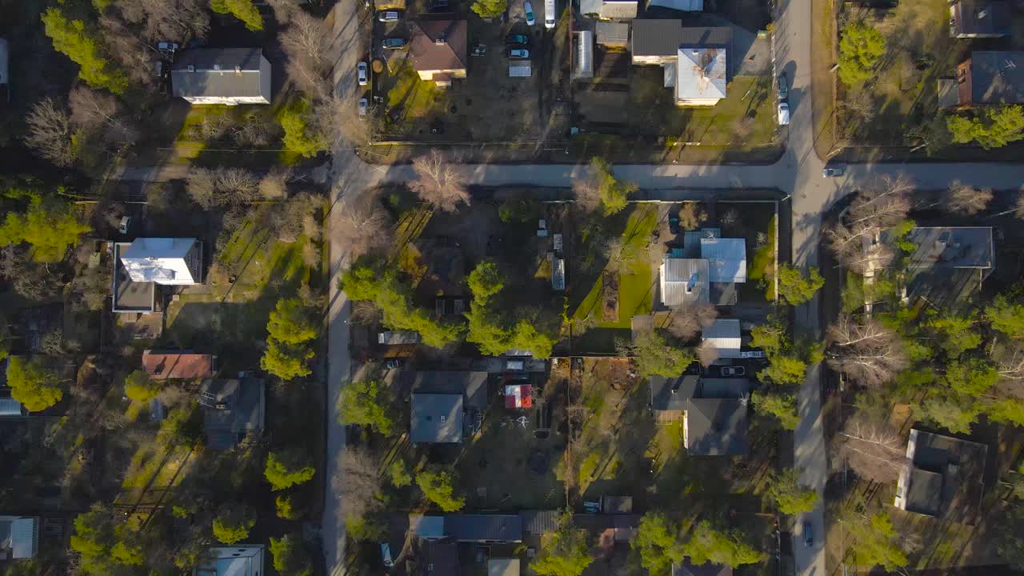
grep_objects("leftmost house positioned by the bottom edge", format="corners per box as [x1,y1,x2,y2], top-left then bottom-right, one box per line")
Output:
[0,513,44,558]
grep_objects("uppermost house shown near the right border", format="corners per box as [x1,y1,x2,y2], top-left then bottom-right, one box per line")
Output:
[951,0,1011,40]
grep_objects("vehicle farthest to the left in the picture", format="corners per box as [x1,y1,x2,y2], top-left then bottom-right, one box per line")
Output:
[117,210,133,235]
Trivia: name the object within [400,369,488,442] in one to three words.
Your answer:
house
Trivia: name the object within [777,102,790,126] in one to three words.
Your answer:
vehicle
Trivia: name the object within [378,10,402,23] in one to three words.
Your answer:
vehicle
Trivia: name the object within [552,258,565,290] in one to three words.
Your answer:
shed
